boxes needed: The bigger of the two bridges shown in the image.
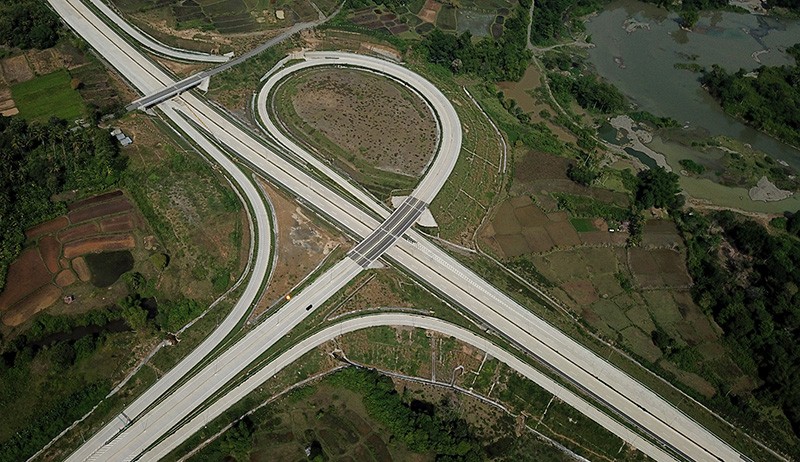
[341,195,438,269]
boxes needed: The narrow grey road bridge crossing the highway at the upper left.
[128,76,209,117]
